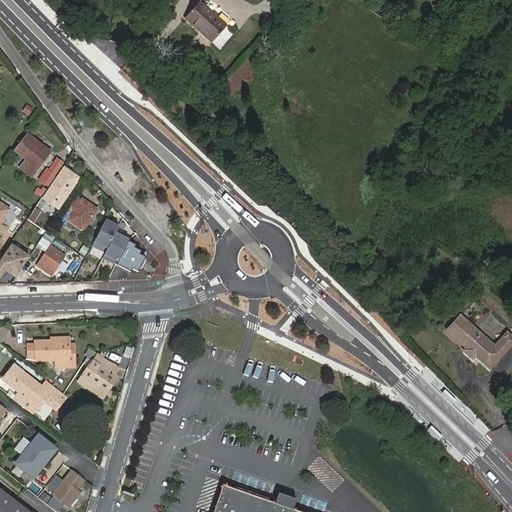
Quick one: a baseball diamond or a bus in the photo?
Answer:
bus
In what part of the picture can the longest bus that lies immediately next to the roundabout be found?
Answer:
center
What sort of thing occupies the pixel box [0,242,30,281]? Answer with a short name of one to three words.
house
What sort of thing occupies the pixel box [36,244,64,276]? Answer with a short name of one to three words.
house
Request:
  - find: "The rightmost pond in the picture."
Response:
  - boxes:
[334,424,448,512]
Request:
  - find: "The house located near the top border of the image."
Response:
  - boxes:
[184,0,228,42]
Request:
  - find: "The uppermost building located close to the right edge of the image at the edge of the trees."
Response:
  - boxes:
[444,314,512,372]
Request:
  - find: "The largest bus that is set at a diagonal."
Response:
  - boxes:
[222,192,260,228]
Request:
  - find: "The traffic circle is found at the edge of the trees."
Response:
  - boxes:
[210,216,298,306]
